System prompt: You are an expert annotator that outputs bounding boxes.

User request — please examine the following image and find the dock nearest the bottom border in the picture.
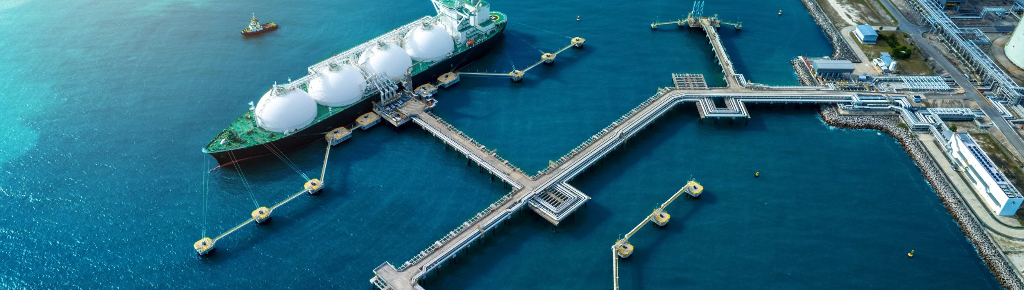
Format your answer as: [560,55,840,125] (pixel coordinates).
[368,261,429,290]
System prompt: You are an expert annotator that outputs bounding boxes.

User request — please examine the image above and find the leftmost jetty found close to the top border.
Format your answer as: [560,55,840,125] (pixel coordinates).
[687,7,721,36]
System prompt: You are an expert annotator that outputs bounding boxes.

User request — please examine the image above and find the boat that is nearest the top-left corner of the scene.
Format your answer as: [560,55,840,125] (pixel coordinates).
[241,17,277,37]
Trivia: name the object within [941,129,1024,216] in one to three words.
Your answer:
building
